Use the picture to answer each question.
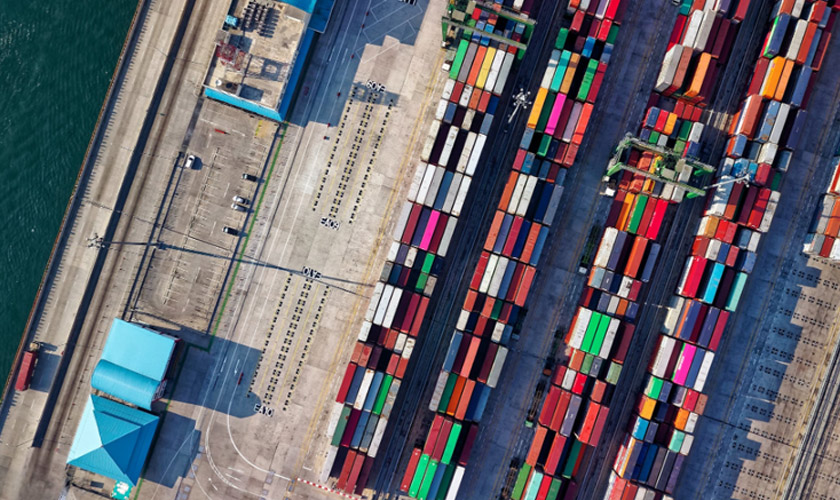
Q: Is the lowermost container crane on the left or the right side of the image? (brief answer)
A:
right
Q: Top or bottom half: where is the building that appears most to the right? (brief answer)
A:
top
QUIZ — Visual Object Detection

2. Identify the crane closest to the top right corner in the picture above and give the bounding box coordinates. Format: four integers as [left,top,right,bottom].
[600,138,716,207]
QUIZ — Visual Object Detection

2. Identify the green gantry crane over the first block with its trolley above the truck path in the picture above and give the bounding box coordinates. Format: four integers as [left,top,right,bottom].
[439,0,538,74]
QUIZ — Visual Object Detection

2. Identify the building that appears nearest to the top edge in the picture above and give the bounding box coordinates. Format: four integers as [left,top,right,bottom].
[202,0,336,121]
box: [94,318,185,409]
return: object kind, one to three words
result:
shed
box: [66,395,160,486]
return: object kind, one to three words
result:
building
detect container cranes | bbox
[600,138,716,207]
[439,0,538,74]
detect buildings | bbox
[94,318,185,409]
[66,395,160,486]
[202,0,336,121]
